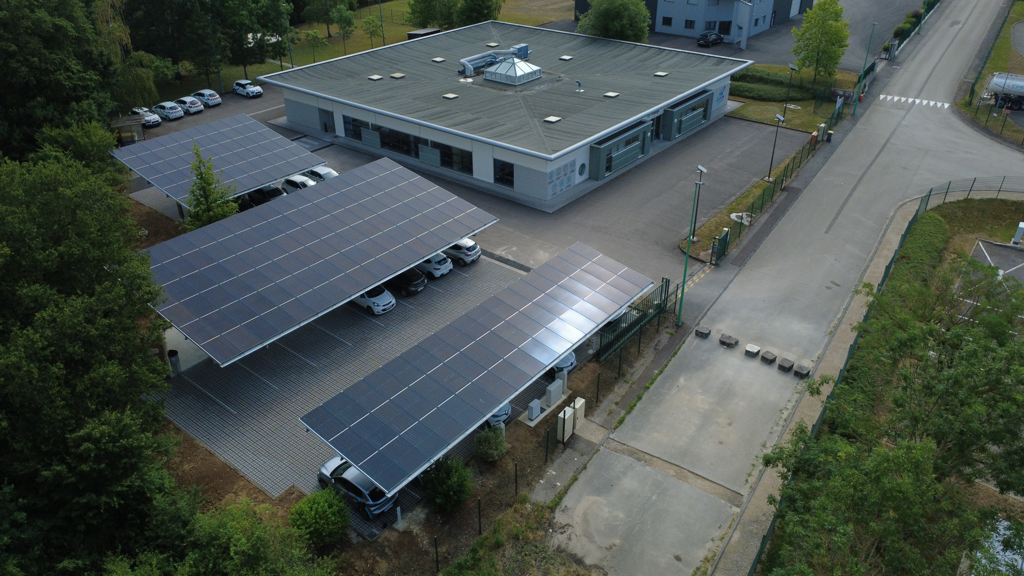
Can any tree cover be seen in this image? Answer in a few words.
Yes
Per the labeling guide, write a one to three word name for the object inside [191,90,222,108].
car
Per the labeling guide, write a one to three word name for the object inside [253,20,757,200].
building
